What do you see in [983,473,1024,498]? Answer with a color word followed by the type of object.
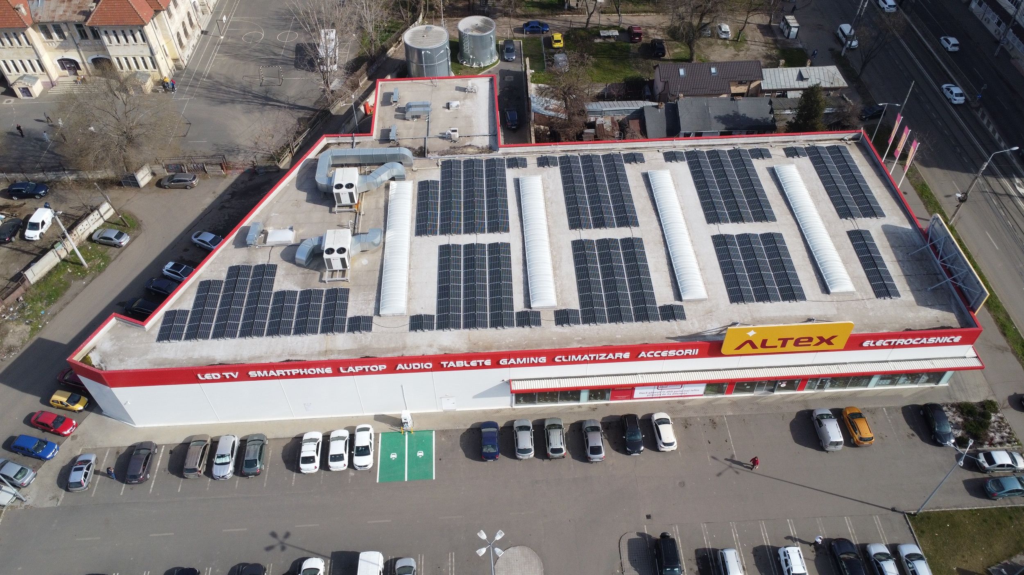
blue car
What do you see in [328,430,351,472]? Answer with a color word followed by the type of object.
white car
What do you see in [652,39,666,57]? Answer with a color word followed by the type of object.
black car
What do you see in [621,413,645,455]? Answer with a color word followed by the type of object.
black car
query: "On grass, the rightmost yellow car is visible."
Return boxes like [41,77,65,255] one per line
[551,32,564,48]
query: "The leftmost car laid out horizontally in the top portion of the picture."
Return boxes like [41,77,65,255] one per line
[7,180,47,199]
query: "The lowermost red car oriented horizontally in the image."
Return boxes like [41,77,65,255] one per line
[28,409,77,436]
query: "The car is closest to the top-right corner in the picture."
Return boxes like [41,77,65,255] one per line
[939,34,962,51]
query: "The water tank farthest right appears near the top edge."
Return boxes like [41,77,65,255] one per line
[456,20,498,69]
